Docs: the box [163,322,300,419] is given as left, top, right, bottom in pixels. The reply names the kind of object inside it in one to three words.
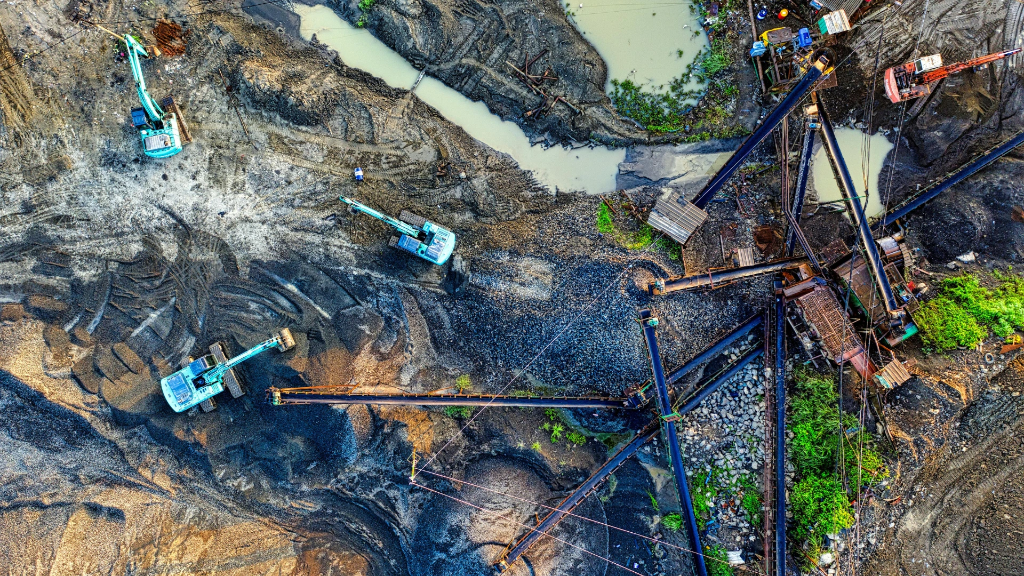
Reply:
work vehicle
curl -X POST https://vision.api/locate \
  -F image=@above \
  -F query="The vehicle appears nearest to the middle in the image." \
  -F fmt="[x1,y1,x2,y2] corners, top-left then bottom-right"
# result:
[331,191,455,269]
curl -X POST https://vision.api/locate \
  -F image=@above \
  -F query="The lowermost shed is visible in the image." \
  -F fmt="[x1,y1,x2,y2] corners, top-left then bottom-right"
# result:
[647,192,709,246]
